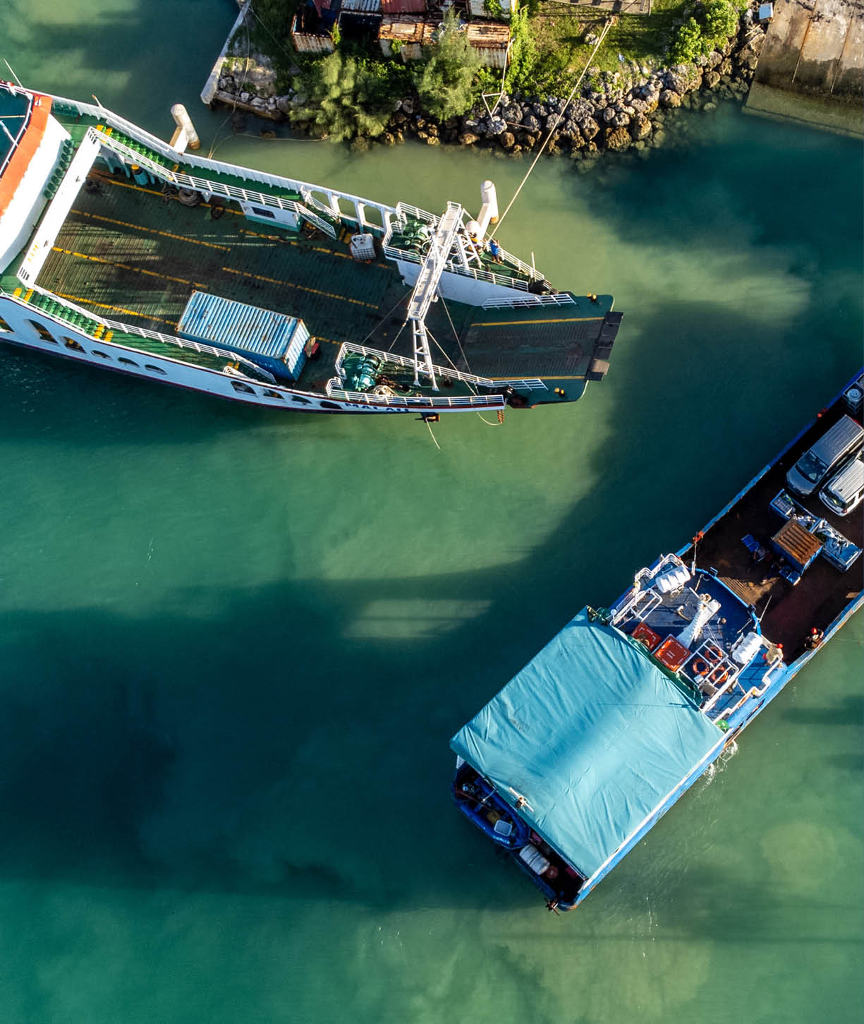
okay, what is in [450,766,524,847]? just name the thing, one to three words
boat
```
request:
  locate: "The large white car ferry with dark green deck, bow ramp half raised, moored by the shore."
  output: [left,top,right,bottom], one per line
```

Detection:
[0,40,622,449]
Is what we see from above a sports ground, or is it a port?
port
